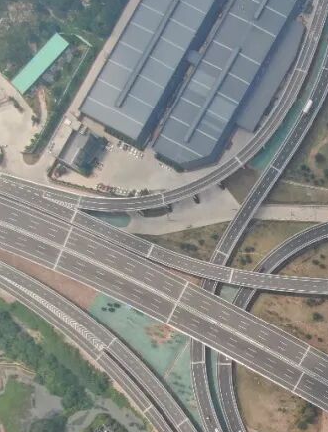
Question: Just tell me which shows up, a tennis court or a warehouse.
warehouse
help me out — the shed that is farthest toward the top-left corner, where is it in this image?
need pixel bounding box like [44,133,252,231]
[12,34,73,96]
